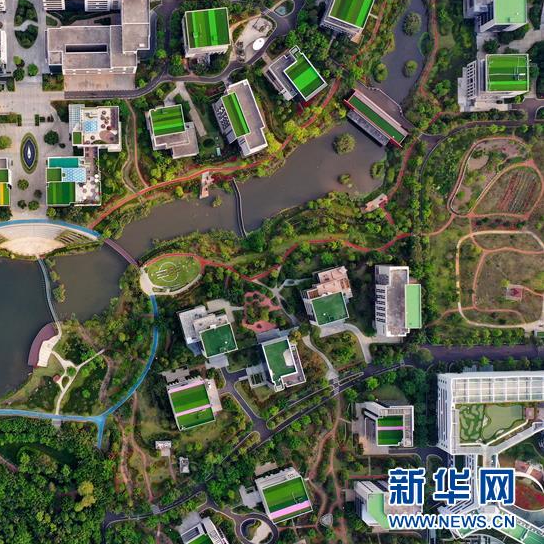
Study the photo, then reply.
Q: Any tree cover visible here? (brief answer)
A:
Yes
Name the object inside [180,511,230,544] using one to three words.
building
